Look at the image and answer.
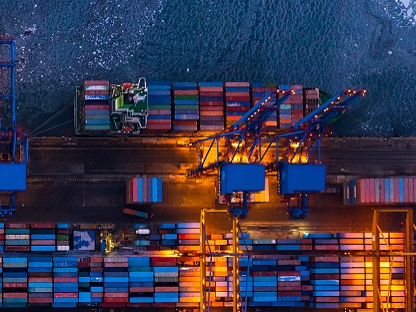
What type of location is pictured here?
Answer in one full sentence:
This looks like a port.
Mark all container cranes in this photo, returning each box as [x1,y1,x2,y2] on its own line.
[0,36,29,223]
[178,209,251,312]
[177,97,298,223]
[241,97,369,223]
[337,209,416,312]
